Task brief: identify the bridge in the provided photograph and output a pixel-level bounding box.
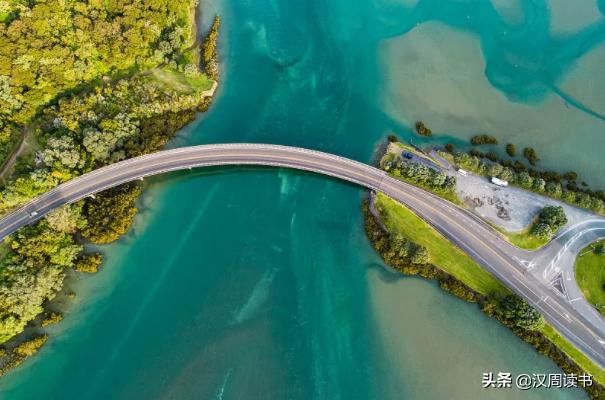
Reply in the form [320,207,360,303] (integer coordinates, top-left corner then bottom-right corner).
[43,142,385,212]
